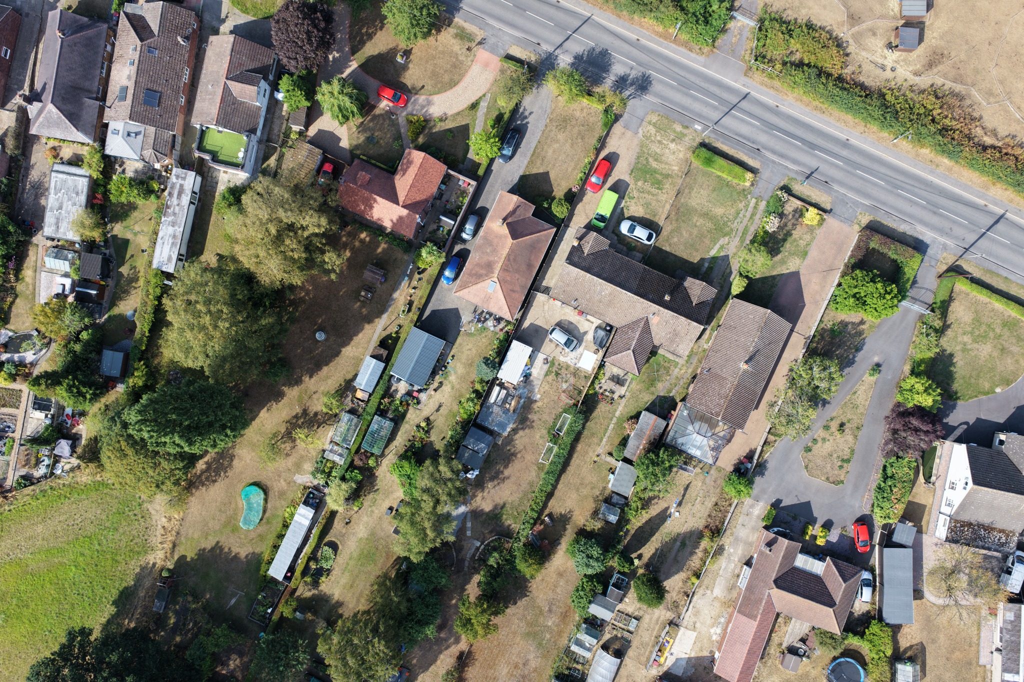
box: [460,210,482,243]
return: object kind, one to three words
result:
car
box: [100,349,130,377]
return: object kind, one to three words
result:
shed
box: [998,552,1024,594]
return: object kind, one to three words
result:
vehicle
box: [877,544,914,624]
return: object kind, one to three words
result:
building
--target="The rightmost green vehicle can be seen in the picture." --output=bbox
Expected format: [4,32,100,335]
[590,192,617,231]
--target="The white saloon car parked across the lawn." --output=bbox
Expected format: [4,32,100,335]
[618,221,656,246]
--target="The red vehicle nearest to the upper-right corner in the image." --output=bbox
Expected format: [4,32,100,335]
[587,158,612,194]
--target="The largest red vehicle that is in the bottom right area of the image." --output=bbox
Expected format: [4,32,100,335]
[851,521,872,553]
